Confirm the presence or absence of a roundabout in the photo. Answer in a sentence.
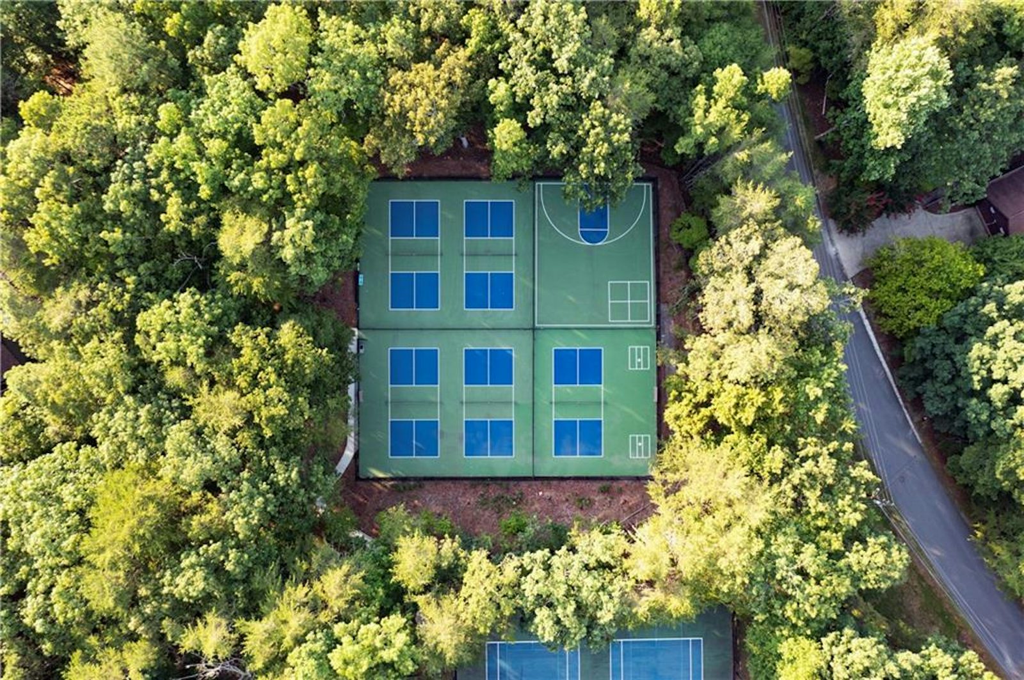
No, there isn't any roundabout down there.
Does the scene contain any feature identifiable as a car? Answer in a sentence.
No, the frame has no car in it.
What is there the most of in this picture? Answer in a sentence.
What you mostly see from above here is trees.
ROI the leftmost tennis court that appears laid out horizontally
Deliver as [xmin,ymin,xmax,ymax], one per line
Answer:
[487,642,580,680]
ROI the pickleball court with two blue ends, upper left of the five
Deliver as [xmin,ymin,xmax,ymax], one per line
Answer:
[390,200,440,310]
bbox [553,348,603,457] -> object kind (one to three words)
sports court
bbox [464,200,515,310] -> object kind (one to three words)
sports court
